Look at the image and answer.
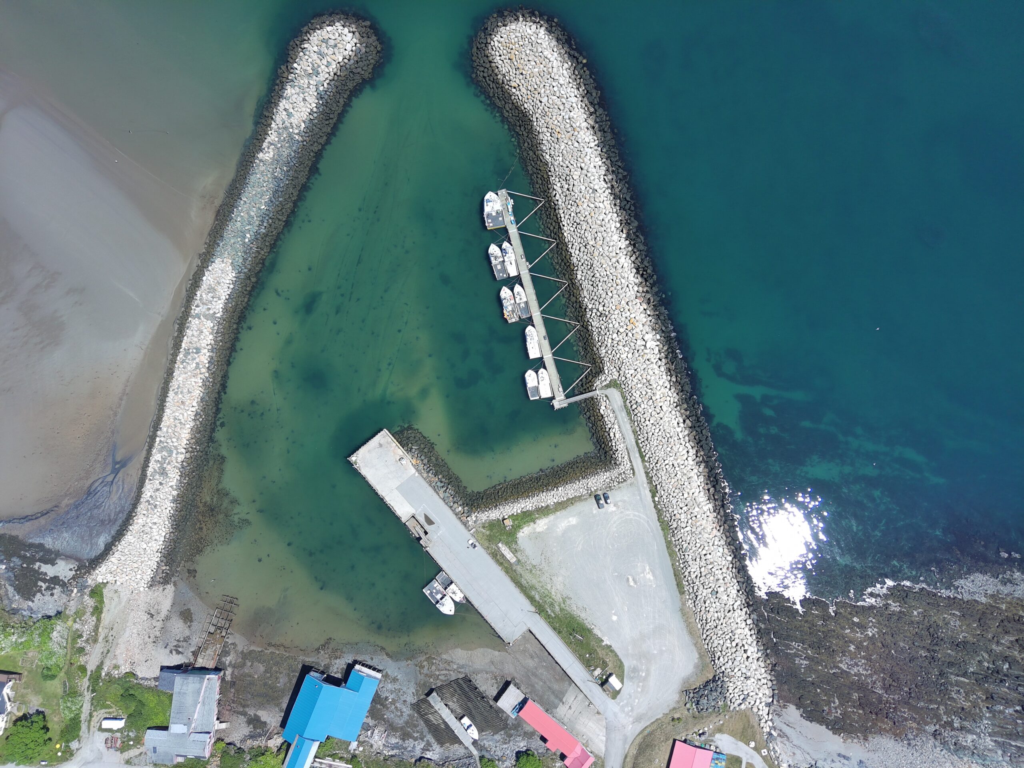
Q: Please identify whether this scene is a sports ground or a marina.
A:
marina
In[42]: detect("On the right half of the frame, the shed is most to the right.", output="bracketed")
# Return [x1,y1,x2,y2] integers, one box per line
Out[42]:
[667,739,713,768]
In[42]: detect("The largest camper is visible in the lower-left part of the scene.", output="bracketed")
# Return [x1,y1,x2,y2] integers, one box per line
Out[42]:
[102,718,131,730]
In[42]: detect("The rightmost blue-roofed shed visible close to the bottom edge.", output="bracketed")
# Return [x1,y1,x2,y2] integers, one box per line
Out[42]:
[282,662,382,768]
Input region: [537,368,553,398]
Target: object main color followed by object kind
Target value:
white boat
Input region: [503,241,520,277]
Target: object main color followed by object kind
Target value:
white boat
